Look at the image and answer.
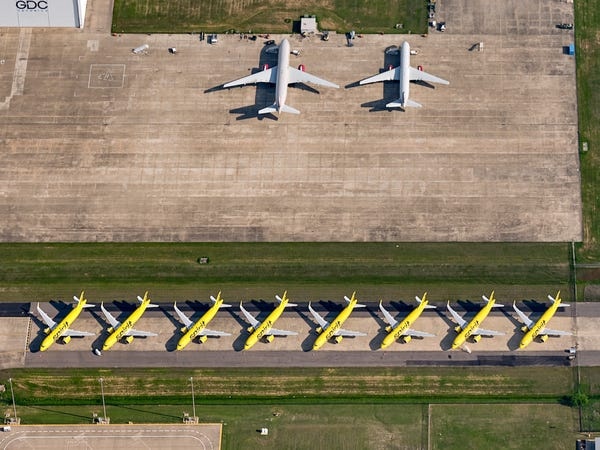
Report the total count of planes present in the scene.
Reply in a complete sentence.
The count of planes comes to 10.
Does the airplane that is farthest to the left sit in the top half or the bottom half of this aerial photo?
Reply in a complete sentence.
Seen from above, the airplane that is farthest to the left lies in the bottom half of the view.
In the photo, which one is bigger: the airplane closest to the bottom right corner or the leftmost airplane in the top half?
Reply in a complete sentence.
The airplane closest to the bottom right corner is smaller than the leftmost airplane in the top half.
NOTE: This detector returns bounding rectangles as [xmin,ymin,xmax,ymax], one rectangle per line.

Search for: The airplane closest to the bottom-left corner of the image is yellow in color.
[38,292,96,350]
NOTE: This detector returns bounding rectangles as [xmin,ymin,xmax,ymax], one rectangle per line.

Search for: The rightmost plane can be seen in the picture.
[513,291,575,349]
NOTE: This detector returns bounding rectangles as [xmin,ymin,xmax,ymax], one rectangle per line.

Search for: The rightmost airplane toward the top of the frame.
[359,41,450,110]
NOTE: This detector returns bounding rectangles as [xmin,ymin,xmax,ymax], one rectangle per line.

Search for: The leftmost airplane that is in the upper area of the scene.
[223,37,339,117]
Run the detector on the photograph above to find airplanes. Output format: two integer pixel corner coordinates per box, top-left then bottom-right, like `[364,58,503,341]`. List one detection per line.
[223,37,339,117]
[513,291,575,349]
[38,292,96,350]
[101,292,159,349]
[379,292,437,349]
[446,291,507,349]
[240,291,300,349]
[359,41,450,110]
[174,292,233,350]
[309,292,369,350]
